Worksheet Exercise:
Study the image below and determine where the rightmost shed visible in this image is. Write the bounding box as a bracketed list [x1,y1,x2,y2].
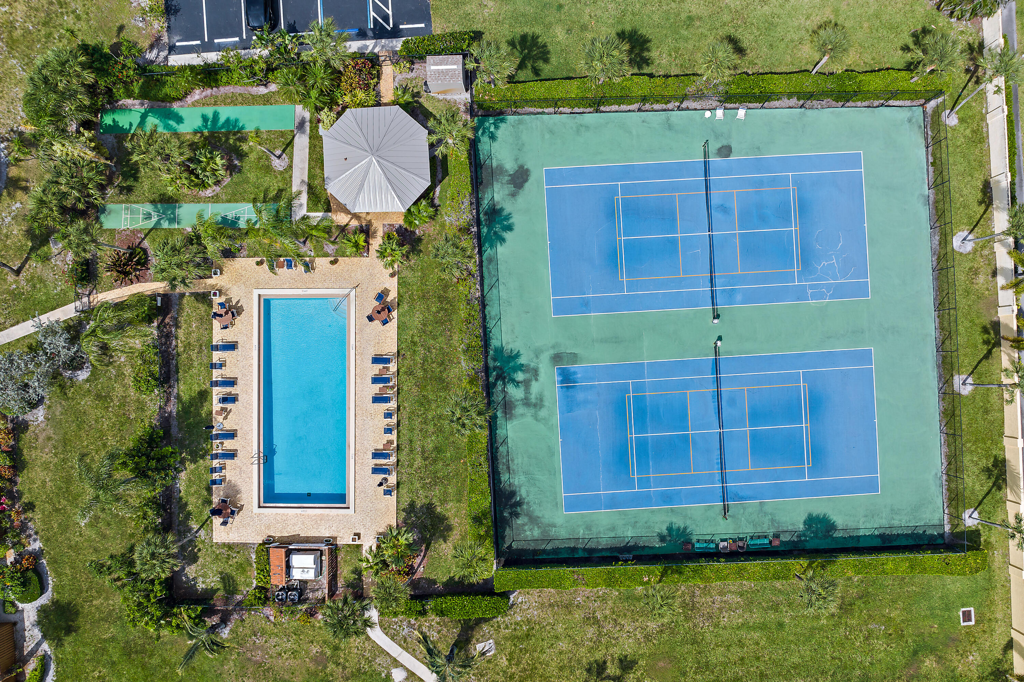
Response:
[426,55,464,92]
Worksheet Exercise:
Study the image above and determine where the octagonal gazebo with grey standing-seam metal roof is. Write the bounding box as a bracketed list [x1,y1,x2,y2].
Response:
[321,105,431,213]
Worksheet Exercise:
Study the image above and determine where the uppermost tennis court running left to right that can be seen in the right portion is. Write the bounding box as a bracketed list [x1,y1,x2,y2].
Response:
[543,151,871,317]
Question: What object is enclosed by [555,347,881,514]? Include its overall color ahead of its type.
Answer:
blue tennis court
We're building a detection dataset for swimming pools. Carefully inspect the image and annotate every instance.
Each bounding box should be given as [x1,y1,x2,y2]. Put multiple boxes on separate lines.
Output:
[252,288,355,514]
